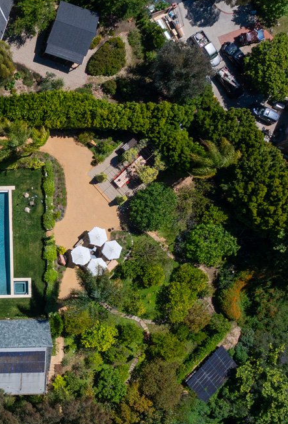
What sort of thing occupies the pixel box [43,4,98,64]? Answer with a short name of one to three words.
building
